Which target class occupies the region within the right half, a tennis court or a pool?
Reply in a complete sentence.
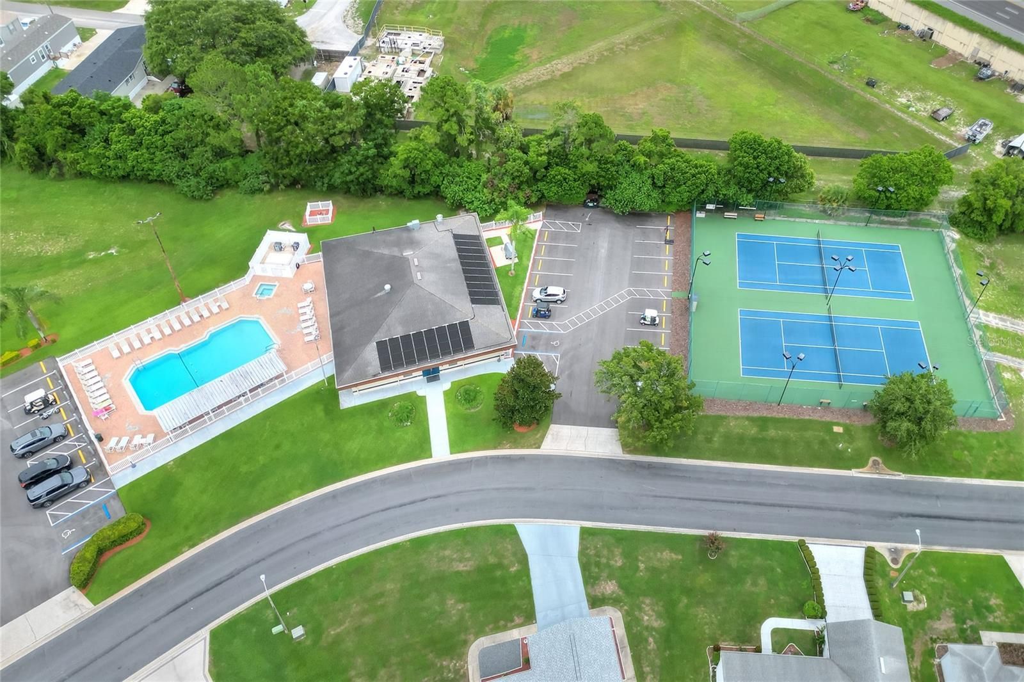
There is a tennis court within the right half.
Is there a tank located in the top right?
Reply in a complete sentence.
No, looking in the top right, there is no tank.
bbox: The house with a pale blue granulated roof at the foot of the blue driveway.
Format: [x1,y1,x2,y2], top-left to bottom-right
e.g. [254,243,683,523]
[485,616,621,682]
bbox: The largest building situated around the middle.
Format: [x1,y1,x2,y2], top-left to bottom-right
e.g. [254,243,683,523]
[317,213,521,403]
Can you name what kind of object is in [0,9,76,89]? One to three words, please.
house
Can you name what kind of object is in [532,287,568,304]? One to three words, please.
car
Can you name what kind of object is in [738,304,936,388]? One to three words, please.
tennis court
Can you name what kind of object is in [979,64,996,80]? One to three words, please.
boat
